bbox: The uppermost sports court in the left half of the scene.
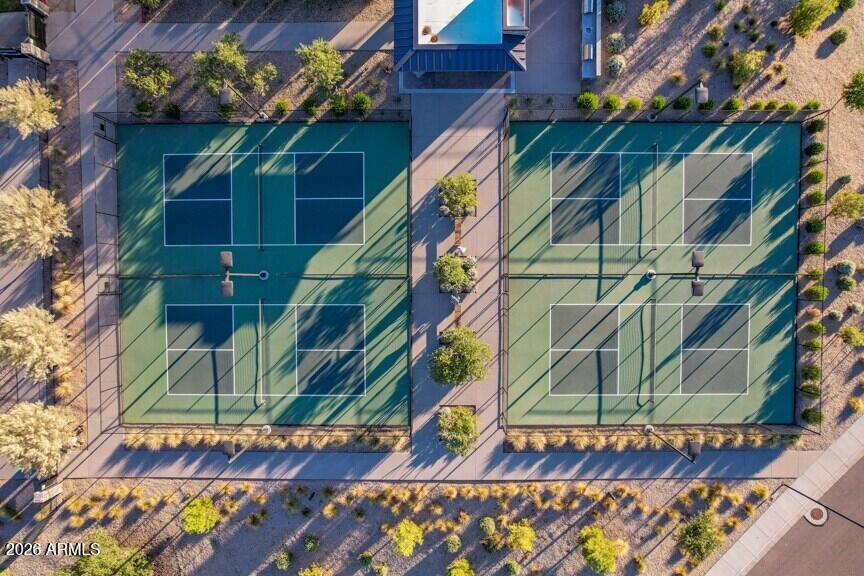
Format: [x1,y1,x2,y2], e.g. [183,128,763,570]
[116,122,408,275]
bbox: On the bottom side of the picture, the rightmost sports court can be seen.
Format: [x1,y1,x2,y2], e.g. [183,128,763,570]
[508,276,799,427]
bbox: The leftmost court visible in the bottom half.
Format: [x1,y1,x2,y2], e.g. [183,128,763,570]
[119,276,408,427]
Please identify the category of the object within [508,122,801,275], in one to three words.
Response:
sports court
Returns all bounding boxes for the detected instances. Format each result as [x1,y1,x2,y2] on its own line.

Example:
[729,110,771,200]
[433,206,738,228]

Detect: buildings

[393,0,532,93]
